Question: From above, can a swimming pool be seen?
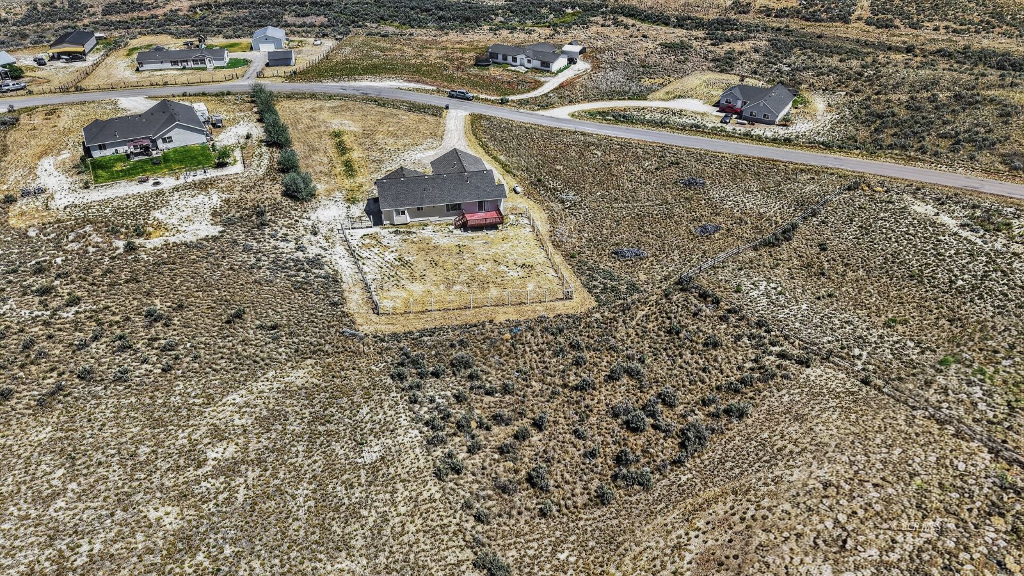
No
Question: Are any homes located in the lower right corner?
No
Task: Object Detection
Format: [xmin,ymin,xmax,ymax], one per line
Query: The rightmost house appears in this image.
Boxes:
[717,83,810,125]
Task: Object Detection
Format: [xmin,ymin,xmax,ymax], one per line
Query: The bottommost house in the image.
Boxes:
[373,147,508,225]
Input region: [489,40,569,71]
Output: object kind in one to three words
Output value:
house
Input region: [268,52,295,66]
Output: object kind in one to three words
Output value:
shed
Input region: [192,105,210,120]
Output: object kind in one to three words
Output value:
vehicle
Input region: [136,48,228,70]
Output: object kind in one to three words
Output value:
house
